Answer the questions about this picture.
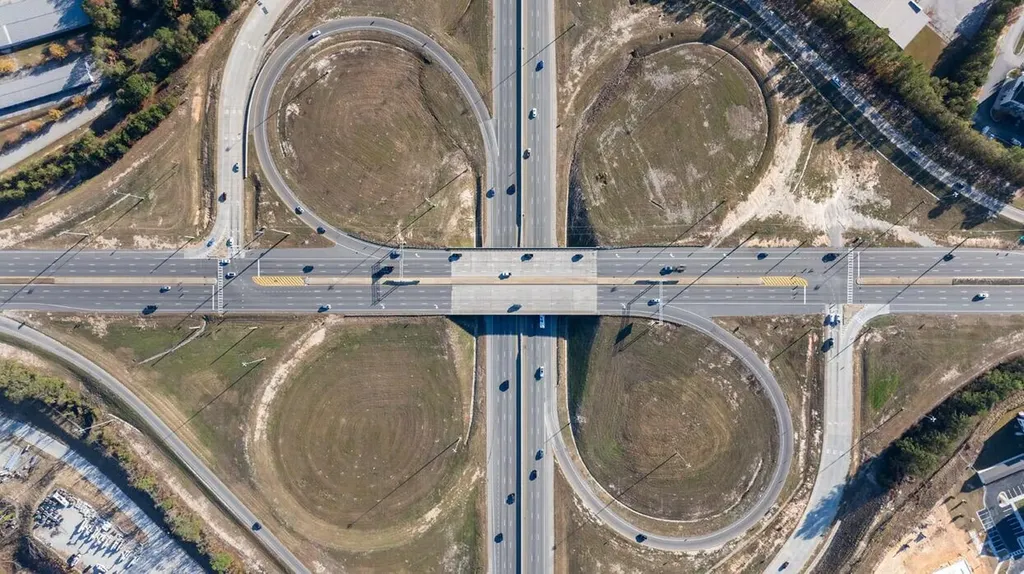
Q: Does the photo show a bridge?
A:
Yes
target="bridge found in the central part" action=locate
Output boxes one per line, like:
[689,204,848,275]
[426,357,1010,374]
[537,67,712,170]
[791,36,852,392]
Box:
[451,248,597,315]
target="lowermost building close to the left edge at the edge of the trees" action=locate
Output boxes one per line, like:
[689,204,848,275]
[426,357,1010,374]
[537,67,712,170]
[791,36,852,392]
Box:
[0,56,100,113]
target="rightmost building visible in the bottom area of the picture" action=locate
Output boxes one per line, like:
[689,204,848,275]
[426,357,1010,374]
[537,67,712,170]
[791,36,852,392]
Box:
[970,448,1024,484]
